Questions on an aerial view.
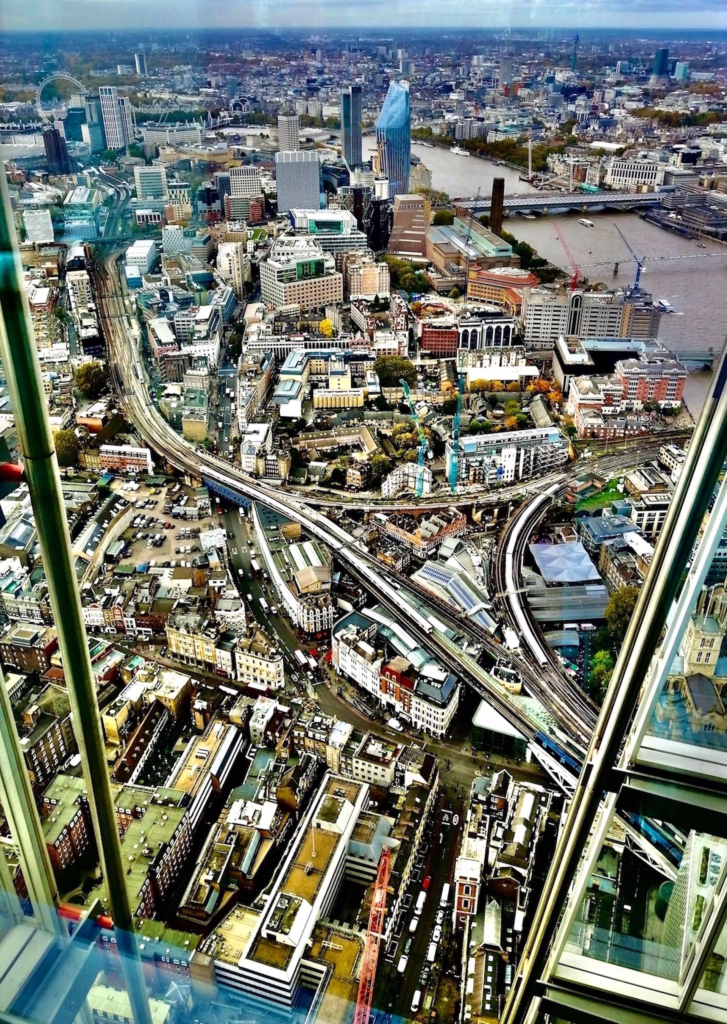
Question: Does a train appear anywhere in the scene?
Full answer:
Yes, a train is visible in the scene.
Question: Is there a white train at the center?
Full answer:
Yes, a white train can be seen at the center.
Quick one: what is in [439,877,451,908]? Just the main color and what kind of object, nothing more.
white vehicle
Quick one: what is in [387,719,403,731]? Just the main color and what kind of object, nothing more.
white vehicle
